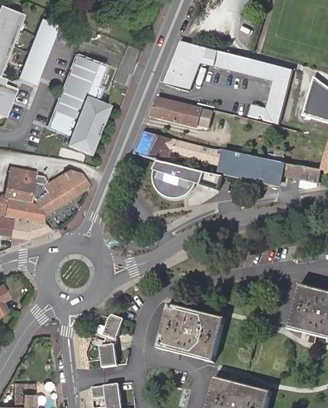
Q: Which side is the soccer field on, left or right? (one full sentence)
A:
It is on the right.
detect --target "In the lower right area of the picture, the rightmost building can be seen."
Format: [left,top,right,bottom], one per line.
[286,284,328,342]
